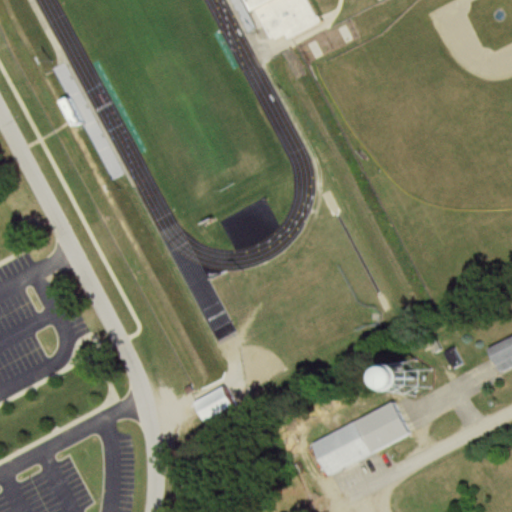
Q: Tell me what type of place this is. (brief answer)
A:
sports ground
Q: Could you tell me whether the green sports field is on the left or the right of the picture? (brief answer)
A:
left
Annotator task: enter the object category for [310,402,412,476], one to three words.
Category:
shed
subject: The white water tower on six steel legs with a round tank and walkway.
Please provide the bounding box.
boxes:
[362,358,433,400]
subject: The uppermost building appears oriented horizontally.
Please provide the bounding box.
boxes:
[230,0,324,40]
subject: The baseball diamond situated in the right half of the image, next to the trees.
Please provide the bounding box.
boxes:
[316,0,512,210]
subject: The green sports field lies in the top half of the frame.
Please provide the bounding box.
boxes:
[58,0,294,250]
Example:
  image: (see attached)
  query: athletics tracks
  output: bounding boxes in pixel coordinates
[34,0,316,338]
